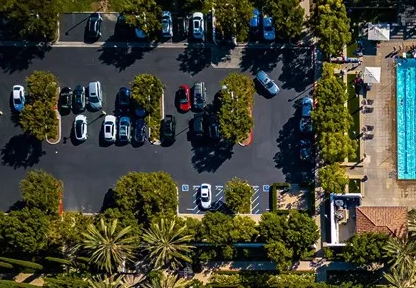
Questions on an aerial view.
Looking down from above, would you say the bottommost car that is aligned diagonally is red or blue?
blue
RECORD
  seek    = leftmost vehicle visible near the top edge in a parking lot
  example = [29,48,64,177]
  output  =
[85,10,101,38]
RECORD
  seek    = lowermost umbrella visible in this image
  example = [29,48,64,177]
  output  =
[364,67,381,84]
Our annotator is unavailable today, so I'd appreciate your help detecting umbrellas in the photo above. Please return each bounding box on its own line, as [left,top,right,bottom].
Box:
[368,21,390,43]
[364,67,381,84]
